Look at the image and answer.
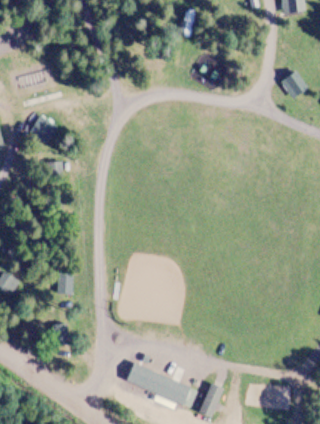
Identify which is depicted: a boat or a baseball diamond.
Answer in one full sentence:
The image shows a baseball diamond.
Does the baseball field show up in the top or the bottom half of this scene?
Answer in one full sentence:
Seen from above, the baseball field lies in the bottom half of the view.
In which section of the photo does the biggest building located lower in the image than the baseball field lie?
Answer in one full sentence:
The biggest building located lower in the image than the baseball field appears toward the bottom of the photo.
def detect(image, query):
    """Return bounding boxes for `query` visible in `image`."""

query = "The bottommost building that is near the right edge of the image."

[282,70,308,99]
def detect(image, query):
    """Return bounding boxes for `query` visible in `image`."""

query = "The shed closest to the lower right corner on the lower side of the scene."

[200,386,222,418]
